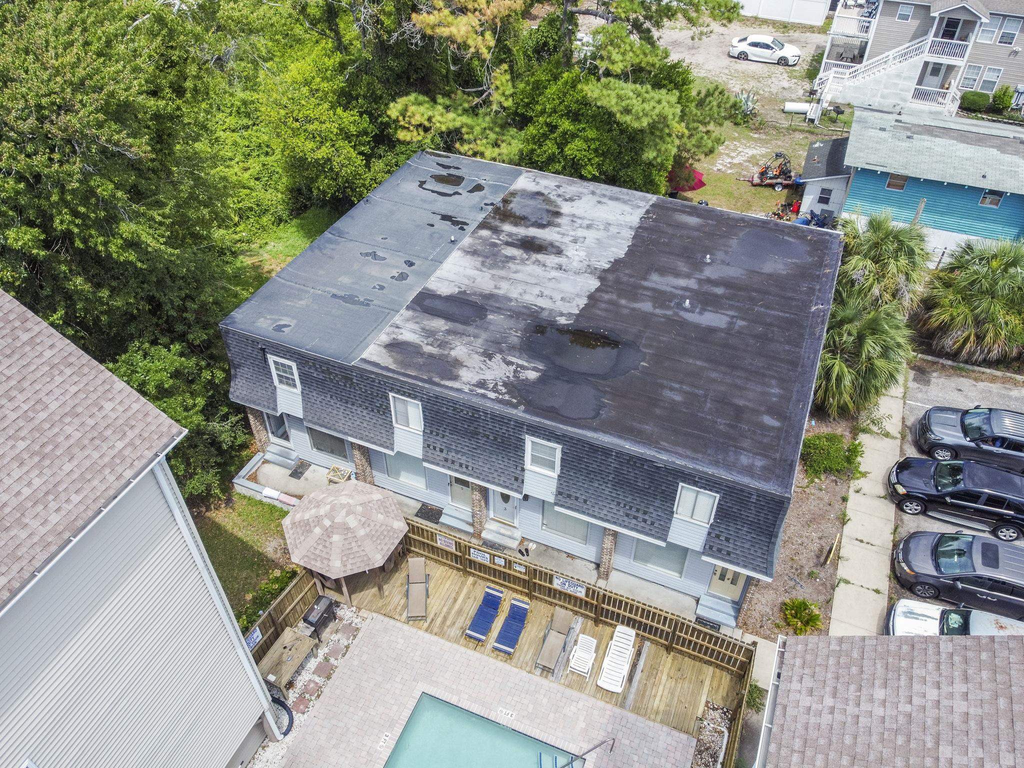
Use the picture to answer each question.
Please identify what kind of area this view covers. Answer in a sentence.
This looks like a residential area.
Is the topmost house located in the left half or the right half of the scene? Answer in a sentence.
The topmost house is on the right side of the image.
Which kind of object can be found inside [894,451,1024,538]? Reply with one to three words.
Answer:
car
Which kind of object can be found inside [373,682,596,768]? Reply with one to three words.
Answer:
swimming pool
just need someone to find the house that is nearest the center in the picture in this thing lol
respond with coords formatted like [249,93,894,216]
[218,148,847,631]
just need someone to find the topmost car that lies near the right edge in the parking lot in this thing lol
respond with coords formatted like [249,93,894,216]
[923,400,1024,467]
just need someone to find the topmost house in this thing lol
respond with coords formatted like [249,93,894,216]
[810,0,1024,113]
